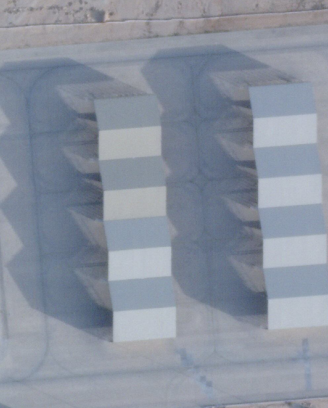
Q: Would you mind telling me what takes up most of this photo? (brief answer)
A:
paved ground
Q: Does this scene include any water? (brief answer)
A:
No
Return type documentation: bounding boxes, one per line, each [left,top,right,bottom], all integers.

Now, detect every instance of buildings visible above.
[243,83,328,330]
[88,95,175,342]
